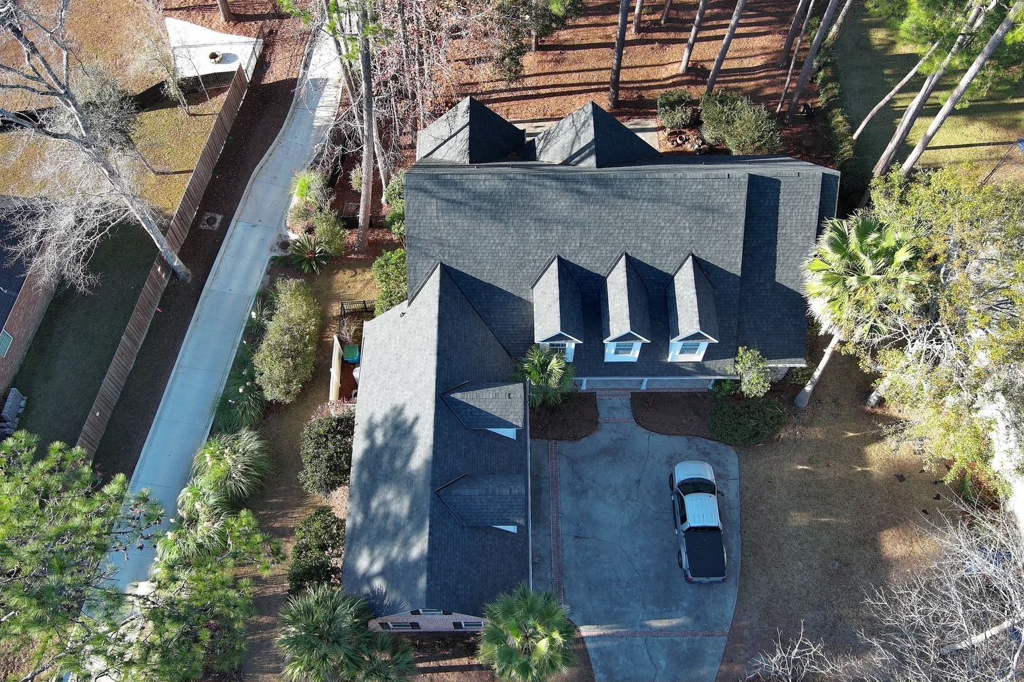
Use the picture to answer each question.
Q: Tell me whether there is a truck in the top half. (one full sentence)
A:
No, looking in the top half, there is no truck.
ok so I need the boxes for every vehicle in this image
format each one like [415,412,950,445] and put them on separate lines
[670,463,727,585]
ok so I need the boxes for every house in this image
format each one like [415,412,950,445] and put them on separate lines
[0,177,81,414]
[337,95,840,637]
